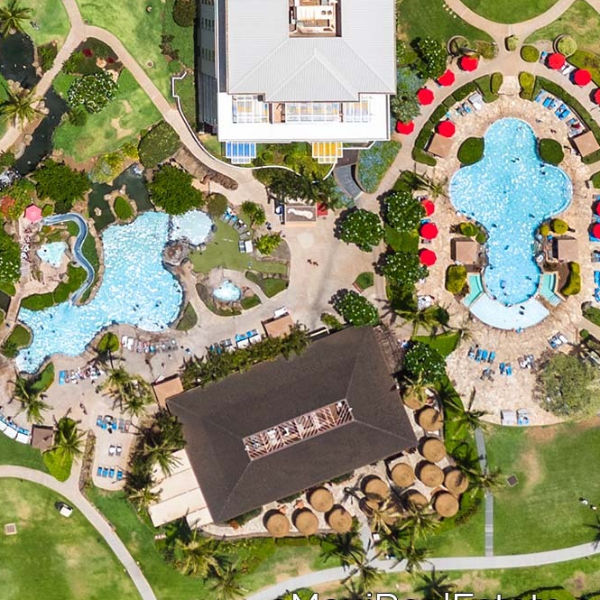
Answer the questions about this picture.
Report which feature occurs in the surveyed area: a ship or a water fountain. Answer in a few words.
water fountain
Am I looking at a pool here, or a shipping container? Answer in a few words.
pool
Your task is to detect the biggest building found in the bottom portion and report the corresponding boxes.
[166,323,418,524]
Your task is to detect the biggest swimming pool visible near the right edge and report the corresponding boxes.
[447,115,575,333]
